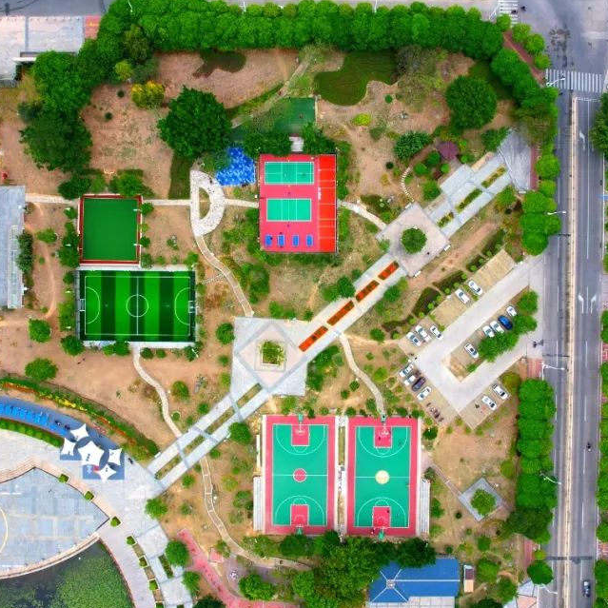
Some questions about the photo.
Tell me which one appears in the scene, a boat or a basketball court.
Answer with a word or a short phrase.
basketball court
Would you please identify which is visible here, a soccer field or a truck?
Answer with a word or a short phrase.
soccer field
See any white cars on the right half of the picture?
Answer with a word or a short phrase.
Yes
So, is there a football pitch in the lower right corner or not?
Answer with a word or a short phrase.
No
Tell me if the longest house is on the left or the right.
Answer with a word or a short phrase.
right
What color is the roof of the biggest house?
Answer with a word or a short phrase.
blue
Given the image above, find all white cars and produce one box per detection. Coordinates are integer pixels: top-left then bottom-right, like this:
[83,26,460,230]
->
[402,373,417,387]
[489,319,502,332]
[406,330,422,347]
[453,288,471,304]
[464,342,481,359]
[481,323,494,336]
[428,324,444,341]
[482,394,497,411]
[468,279,484,296]
[414,325,430,341]
[398,362,414,379]
[505,304,520,319]
[416,385,432,401]
[492,382,509,399]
